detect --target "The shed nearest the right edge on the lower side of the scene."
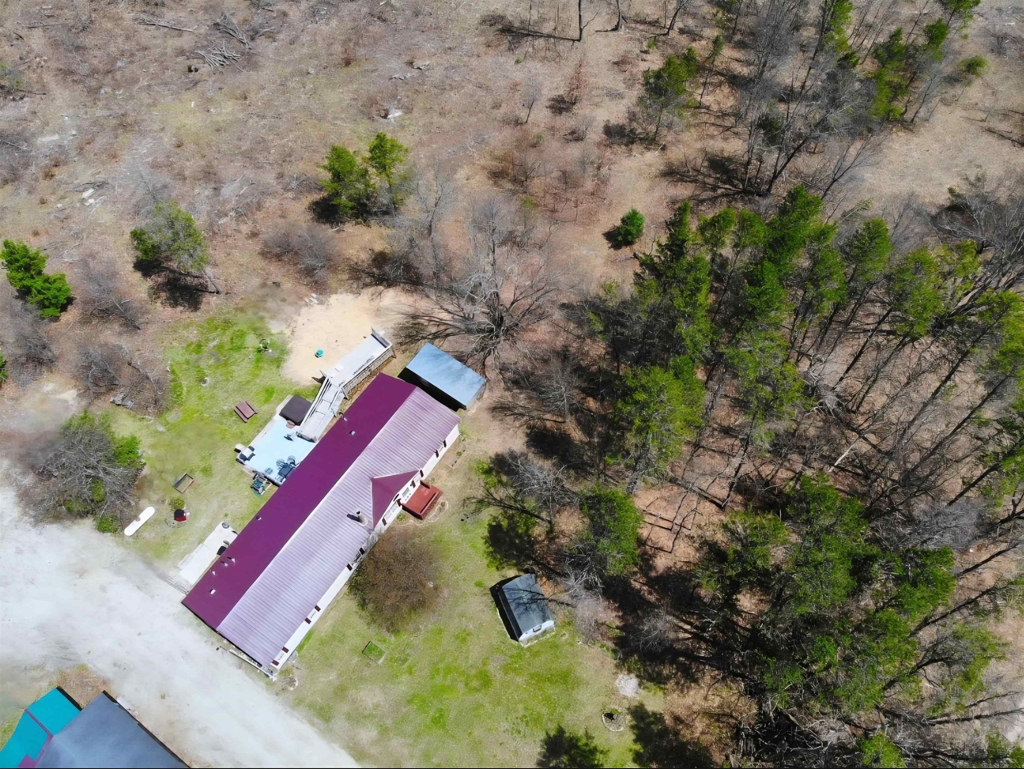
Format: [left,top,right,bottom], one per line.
[499,575,559,653]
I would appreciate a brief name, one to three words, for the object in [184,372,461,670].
house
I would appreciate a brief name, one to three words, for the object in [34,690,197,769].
barn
